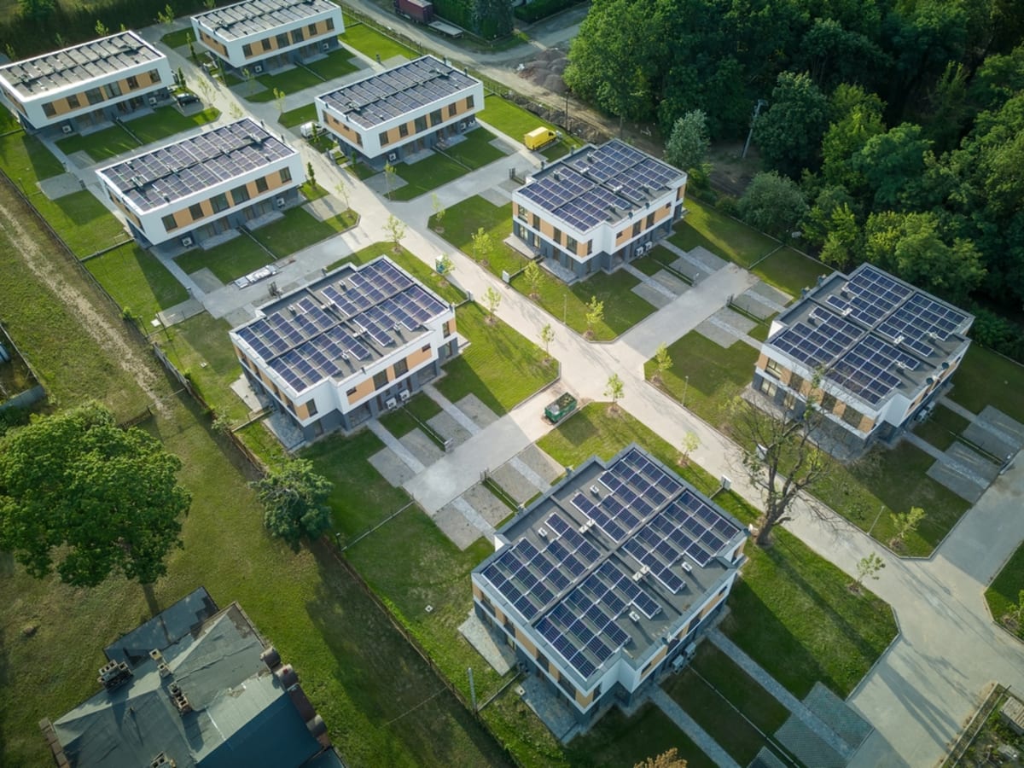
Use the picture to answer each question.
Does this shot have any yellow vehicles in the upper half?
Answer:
Yes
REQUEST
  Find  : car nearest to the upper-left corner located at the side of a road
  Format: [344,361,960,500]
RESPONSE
[173,93,201,107]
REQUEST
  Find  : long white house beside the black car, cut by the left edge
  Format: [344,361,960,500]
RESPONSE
[0,31,177,143]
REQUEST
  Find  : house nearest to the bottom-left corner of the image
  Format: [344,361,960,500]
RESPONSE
[31,593,341,768]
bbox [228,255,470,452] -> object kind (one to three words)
house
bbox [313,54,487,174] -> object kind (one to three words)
house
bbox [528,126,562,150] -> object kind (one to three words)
vehicle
